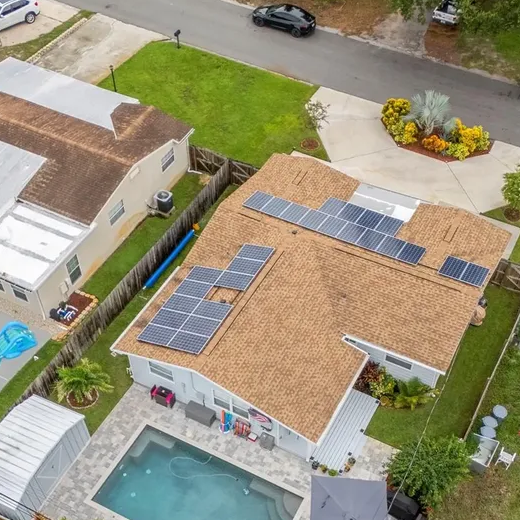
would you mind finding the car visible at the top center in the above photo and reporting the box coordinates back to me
[252,4,320,37]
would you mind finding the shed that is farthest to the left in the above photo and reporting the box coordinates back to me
[0,390,91,520]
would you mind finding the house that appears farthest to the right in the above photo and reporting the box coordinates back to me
[108,152,514,459]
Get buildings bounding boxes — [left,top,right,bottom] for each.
[0,390,91,520]
[108,152,514,459]
[0,51,197,321]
